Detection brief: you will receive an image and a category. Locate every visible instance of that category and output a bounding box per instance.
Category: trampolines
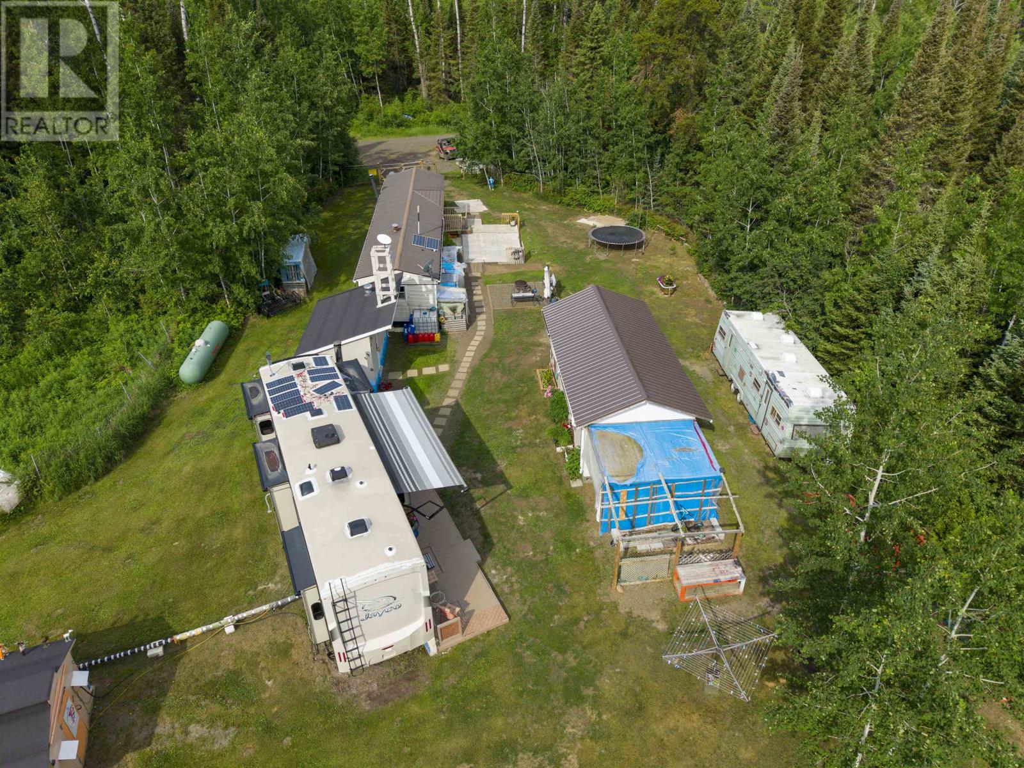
[587,227,647,264]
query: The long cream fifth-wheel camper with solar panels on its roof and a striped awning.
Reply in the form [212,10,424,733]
[240,342,469,682]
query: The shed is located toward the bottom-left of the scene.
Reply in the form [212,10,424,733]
[0,638,94,768]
